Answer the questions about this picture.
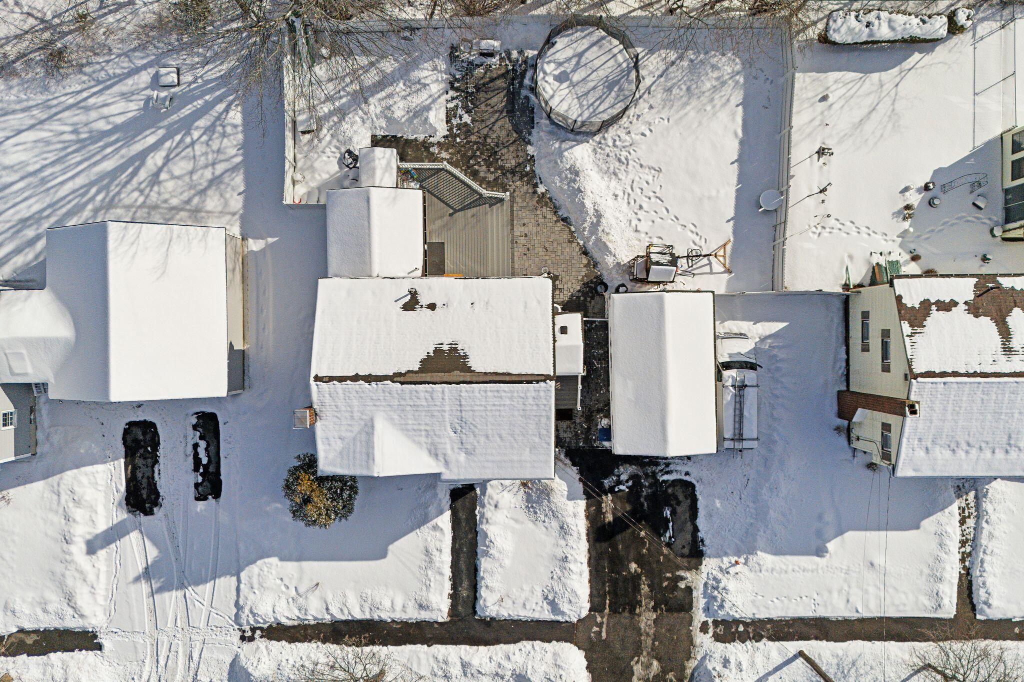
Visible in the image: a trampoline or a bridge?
trampoline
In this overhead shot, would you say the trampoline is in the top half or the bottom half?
top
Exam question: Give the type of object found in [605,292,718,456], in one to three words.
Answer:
building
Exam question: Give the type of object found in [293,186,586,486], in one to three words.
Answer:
house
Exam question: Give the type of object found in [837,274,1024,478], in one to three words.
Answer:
house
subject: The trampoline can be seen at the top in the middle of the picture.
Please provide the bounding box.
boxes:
[535,21,638,136]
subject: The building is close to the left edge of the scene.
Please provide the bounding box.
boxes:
[0,220,248,462]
